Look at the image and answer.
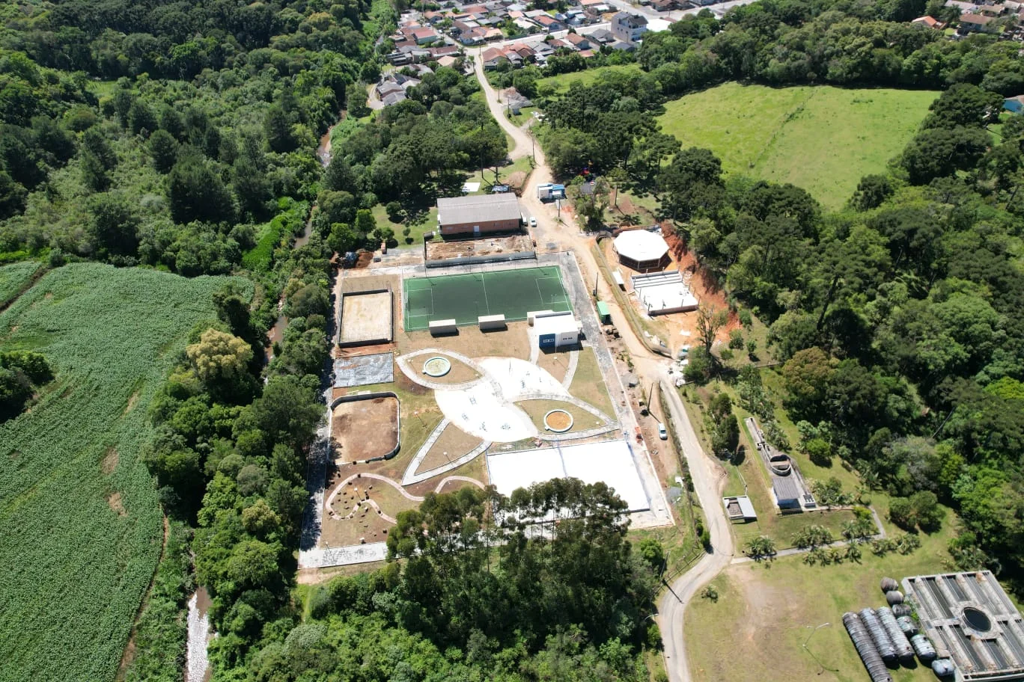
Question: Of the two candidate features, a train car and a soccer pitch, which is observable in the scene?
soccer pitch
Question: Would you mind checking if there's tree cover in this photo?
Yes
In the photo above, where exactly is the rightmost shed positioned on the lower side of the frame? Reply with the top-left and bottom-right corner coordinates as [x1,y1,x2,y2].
[765,475,803,507]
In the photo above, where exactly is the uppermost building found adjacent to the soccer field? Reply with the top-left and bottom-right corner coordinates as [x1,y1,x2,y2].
[437,192,522,235]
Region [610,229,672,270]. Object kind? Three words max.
building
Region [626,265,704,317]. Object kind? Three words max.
building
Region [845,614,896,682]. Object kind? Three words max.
storage tank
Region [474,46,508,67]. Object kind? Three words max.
house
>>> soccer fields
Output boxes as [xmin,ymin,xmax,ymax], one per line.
[403,265,574,332]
